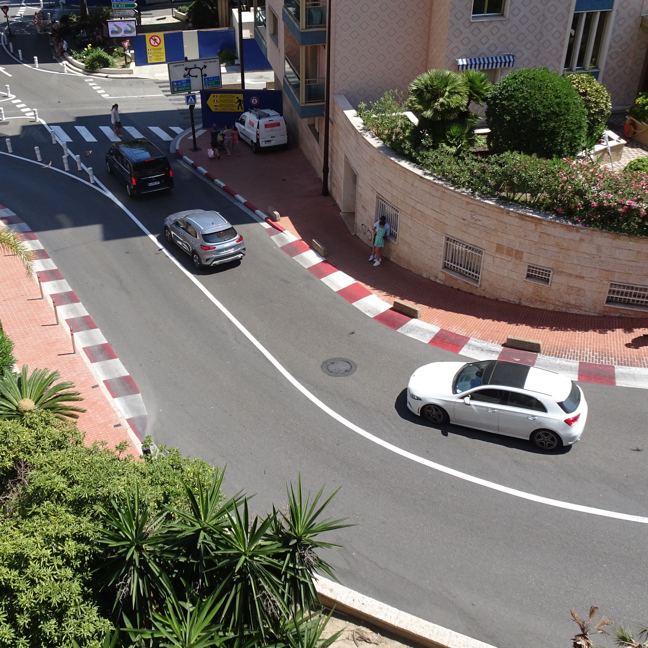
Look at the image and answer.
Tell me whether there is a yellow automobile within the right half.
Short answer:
No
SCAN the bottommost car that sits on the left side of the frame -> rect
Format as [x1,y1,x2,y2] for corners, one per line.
[159,206,246,270]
